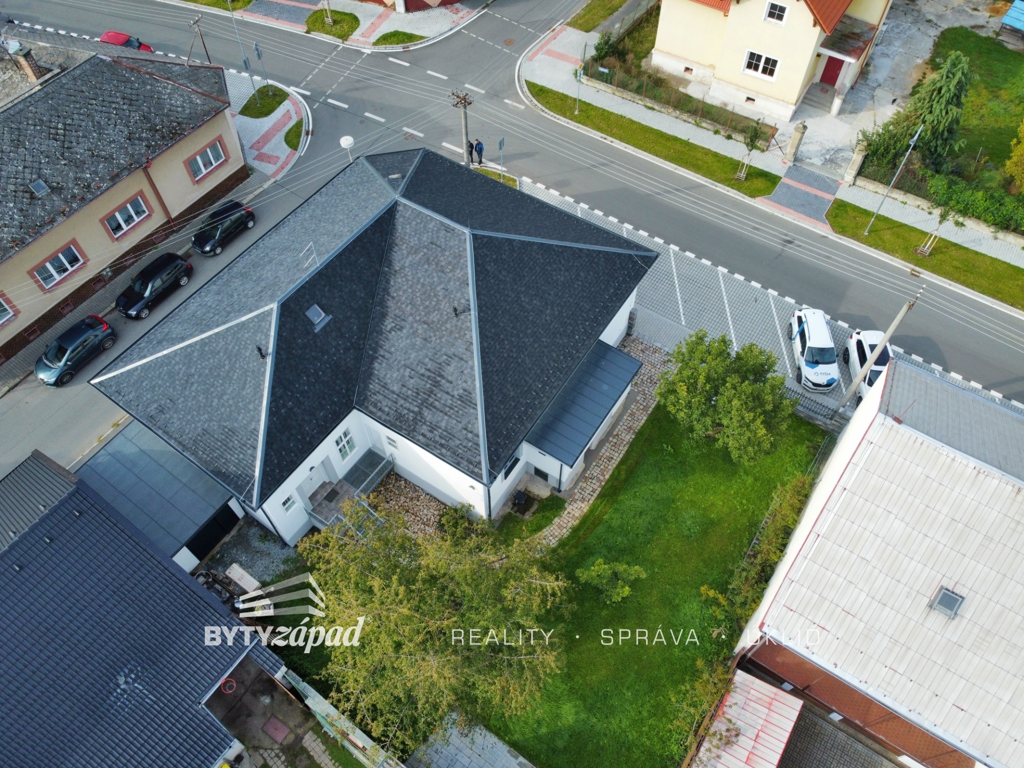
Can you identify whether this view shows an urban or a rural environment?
urban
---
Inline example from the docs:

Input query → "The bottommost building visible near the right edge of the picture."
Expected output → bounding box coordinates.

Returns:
[737,355,1024,768]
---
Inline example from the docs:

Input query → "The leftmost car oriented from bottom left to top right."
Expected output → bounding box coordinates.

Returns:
[23,315,115,391]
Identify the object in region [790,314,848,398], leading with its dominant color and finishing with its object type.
white car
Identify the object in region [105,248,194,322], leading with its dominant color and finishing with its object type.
black car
